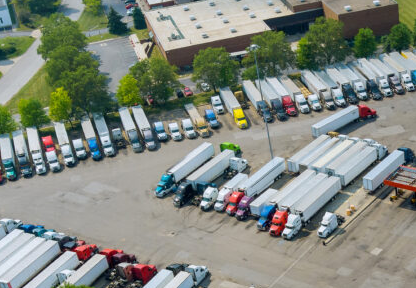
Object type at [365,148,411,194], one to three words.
truck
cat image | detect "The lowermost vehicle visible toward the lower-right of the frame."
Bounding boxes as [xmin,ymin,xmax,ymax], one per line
[318,210,344,239]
